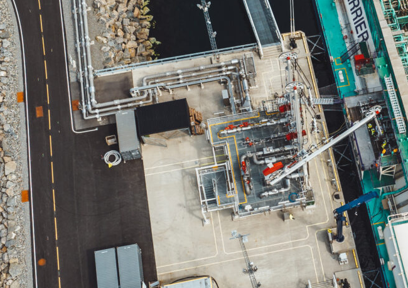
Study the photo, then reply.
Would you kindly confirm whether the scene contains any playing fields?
No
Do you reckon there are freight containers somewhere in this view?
Yes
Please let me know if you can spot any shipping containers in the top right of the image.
No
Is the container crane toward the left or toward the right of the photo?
right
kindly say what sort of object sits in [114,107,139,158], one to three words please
shipping container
